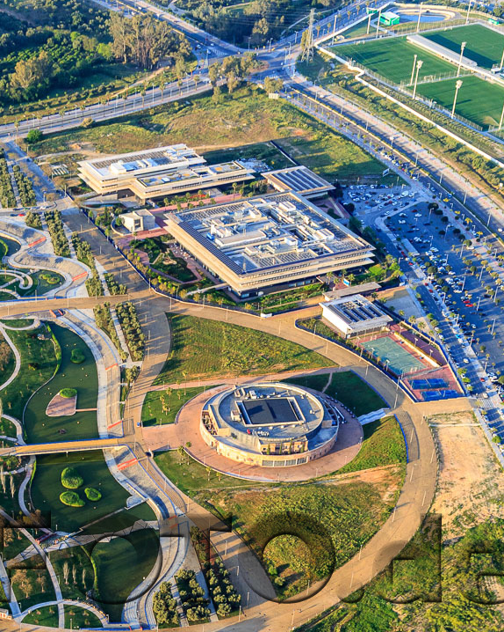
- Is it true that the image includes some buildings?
Yes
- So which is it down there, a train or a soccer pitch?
soccer pitch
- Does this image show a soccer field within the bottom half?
No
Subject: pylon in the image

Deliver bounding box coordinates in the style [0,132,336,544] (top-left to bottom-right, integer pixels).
[302,0,318,61]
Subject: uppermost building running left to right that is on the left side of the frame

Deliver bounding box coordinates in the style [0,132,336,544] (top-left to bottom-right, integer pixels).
[85,144,254,201]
